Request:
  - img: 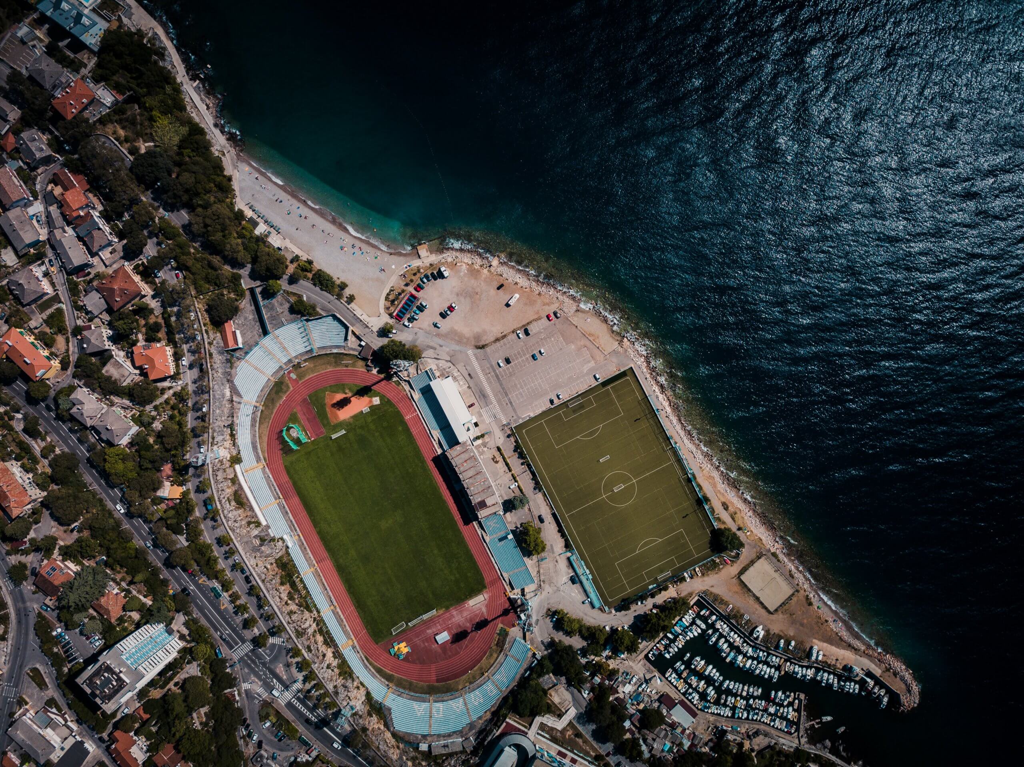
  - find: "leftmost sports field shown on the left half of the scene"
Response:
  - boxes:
[281,383,486,644]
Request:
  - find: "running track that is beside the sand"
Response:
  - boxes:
[258,351,522,696]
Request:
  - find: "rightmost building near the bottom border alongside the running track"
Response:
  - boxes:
[479,704,597,767]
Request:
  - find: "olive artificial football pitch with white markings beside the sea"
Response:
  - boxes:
[514,367,717,612]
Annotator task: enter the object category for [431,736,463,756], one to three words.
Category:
building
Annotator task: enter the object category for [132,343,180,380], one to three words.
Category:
house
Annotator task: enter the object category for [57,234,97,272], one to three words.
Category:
house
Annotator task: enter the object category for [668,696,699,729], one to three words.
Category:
building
